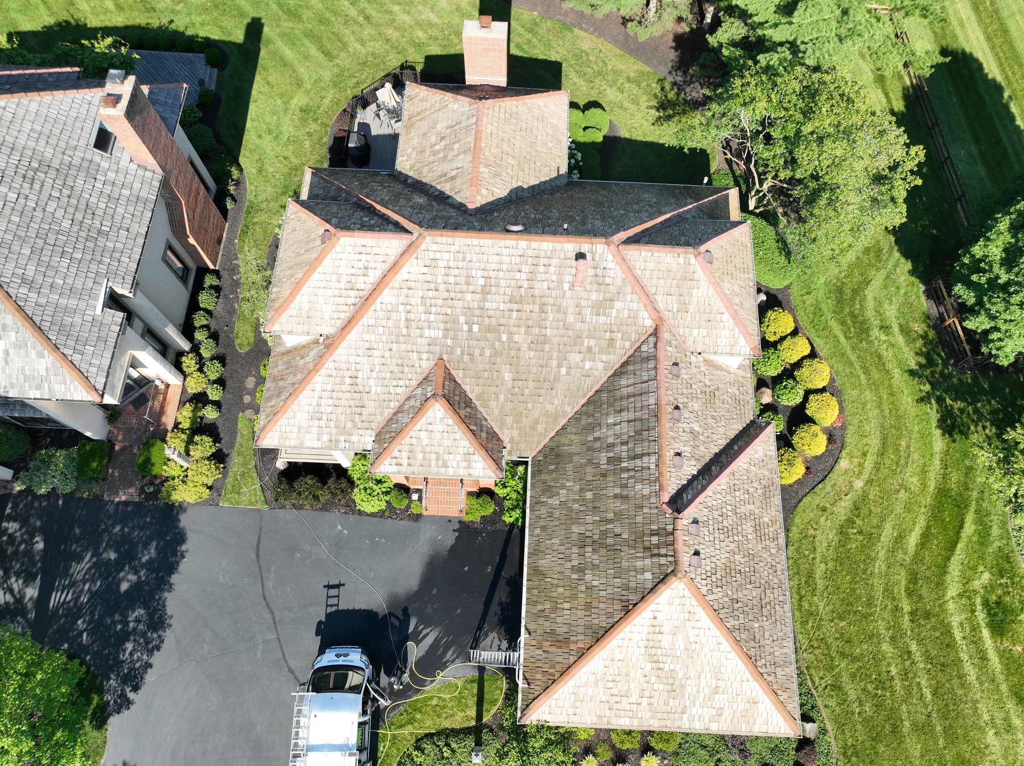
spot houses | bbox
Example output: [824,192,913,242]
[253,11,803,743]
[0,63,228,501]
